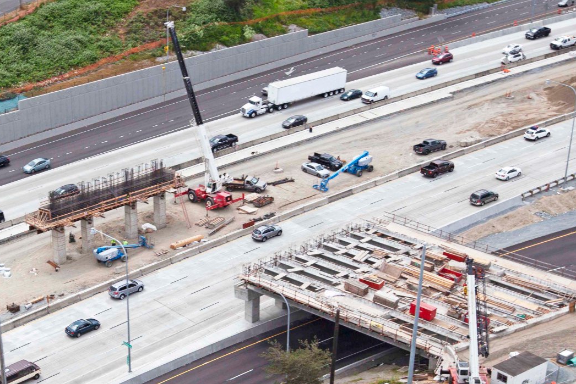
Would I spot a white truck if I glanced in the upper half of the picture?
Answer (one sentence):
Yes, a white truck appears in the upper half of the picture.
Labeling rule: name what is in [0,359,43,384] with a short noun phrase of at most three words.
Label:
vehicle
